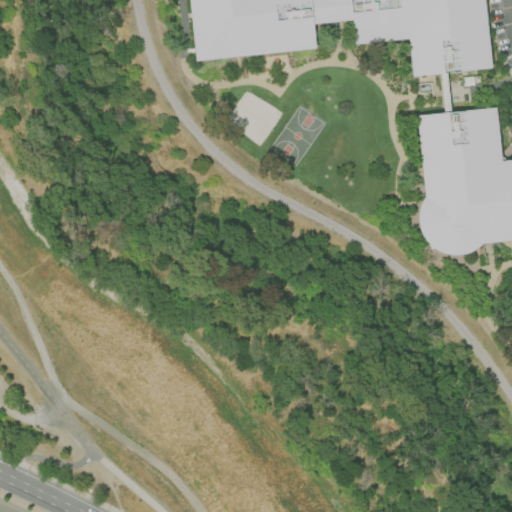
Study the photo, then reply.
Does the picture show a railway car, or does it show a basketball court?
basketball court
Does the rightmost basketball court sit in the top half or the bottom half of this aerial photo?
top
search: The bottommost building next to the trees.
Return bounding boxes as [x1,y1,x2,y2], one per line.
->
[420,108,512,256]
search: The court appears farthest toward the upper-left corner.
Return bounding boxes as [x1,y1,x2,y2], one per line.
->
[226,92,282,146]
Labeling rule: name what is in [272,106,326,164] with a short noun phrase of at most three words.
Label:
basketball court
